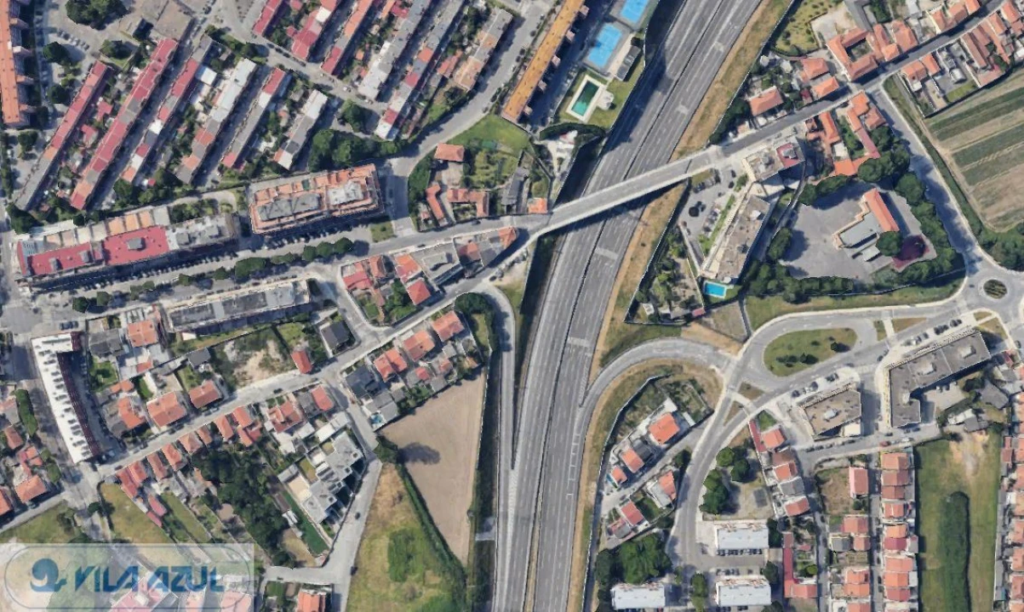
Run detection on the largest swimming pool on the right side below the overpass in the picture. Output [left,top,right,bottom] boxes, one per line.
[702,280,727,298]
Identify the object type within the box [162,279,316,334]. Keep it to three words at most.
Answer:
building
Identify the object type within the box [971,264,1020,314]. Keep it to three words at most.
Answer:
roundabout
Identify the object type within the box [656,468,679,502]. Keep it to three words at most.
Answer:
house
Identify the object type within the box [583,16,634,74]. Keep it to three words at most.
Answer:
sports court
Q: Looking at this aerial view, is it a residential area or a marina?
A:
residential area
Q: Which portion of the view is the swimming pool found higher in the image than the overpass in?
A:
top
